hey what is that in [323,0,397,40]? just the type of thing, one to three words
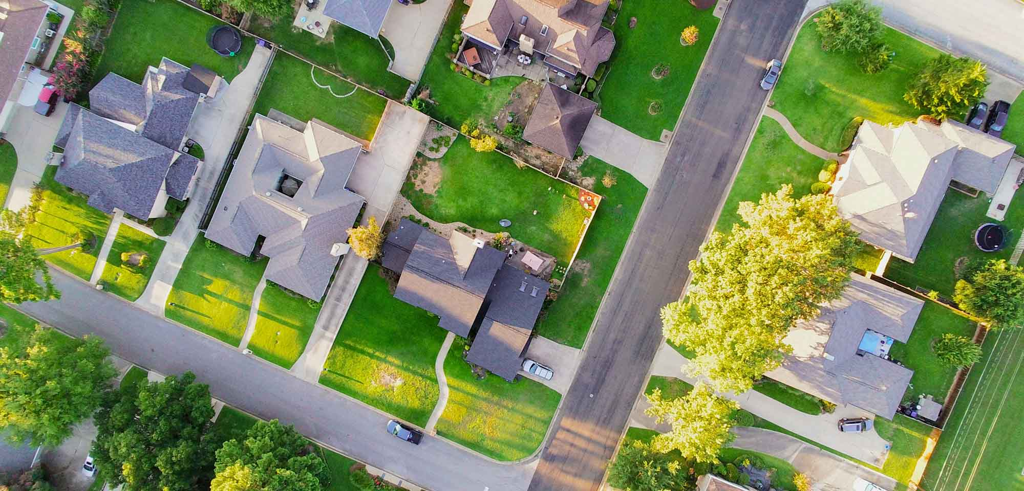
house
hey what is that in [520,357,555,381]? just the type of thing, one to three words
car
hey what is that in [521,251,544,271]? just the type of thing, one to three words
umbrella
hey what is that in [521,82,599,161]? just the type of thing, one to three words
building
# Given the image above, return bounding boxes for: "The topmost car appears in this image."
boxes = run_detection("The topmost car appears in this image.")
[760,56,782,92]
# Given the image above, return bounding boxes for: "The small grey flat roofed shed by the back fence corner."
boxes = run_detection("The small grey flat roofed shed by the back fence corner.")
[910,396,943,422]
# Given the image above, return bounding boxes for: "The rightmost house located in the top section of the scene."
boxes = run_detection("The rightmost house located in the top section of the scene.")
[829,119,1016,264]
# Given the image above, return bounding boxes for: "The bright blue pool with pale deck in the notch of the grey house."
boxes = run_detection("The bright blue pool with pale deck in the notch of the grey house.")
[859,330,894,359]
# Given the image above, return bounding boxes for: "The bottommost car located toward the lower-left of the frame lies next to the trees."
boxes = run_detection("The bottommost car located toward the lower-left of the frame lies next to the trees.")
[79,447,100,481]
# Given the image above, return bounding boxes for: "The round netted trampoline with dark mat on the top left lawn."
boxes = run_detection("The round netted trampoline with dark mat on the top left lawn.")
[204,19,242,55]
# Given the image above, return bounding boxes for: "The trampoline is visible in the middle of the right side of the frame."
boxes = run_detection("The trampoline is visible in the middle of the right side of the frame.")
[974,223,1015,254]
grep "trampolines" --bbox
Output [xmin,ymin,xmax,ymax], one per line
[974,223,1015,254]
[204,19,242,55]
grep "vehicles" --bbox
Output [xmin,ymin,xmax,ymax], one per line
[962,104,987,129]
[79,447,100,481]
[384,418,424,449]
[980,96,1011,136]
[760,56,782,92]
[838,417,874,434]
[854,475,891,491]
[33,83,55,117]
[520,357,555,381]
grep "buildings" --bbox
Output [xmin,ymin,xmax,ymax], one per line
[697,472,747,491]
[0,0,59,143]
[466,263,550,383]
[910,396,943,422]
[323,0,397,40]
[461,0,621,78]
[205,113,366,302]
[382,218,508,339]
[521,82,599,161]
[829,119,1016,264]
[764,263,925,421]
[52,56,207,222]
